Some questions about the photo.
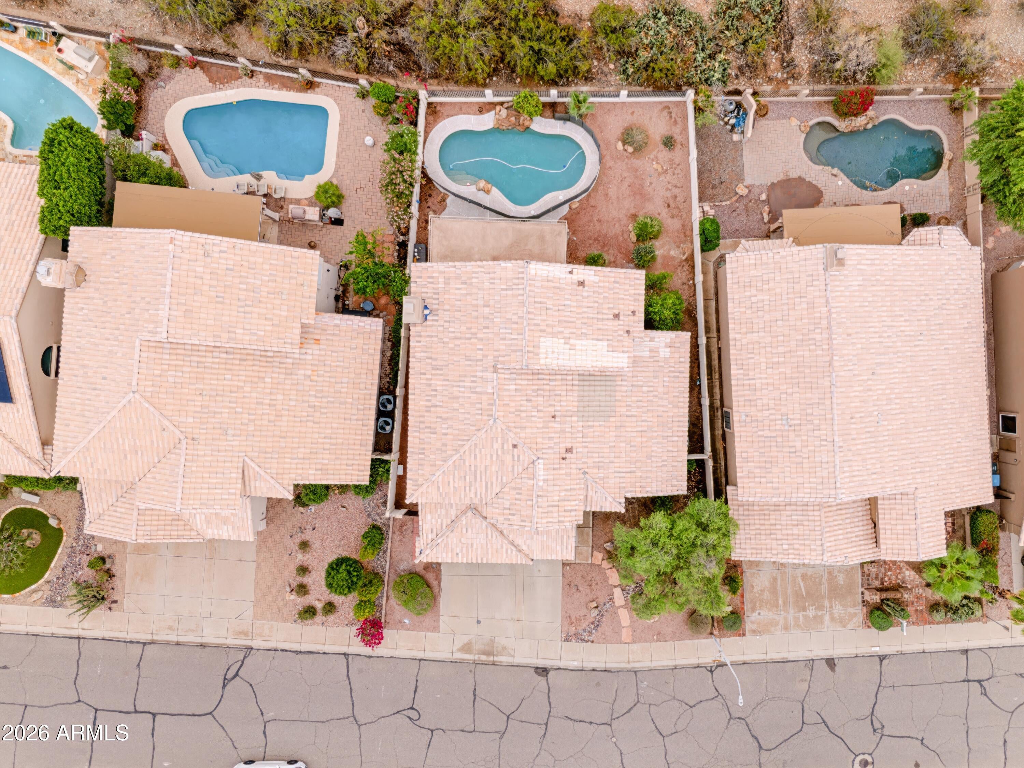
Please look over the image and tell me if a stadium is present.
No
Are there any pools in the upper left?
Yes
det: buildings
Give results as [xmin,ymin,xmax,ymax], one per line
[403,260,691,565]
[32,226,386,544]
[716,226,995,564]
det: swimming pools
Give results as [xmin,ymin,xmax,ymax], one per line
[0,41,101,155]
[424,110,599,218]
[798,113,949,196]
[164,87,340,198]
